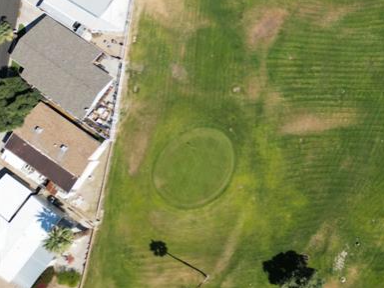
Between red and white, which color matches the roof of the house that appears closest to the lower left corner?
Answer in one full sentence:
The roof of the house that appears closest to the lower left corner looks white in the image.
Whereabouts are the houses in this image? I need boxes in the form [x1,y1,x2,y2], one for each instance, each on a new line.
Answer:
[0,172,66,288]
[11,14,118,119]
[2,102,107,195]
[38,0,131,33]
